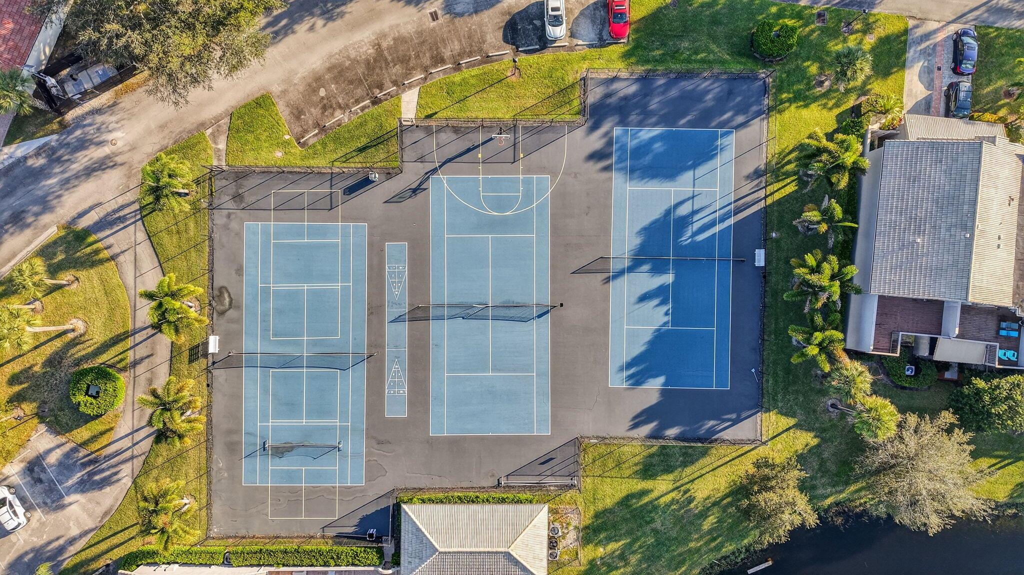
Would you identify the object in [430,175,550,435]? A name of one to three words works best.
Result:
tennis court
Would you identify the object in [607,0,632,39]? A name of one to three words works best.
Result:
car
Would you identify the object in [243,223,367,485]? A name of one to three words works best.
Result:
tennis court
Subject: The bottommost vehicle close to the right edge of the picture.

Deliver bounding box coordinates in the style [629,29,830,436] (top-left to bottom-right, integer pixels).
[947,76,976,119]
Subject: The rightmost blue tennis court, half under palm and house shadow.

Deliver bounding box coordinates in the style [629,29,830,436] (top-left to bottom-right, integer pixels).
[609,128,735,389]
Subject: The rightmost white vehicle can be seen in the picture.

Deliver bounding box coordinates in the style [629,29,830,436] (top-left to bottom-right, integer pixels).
[543,0,568,40]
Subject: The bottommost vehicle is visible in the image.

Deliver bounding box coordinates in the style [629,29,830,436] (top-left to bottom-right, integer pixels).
[0,485,30,535]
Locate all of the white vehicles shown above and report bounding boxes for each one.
[543,0,568,40]
[0,485,30,535]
